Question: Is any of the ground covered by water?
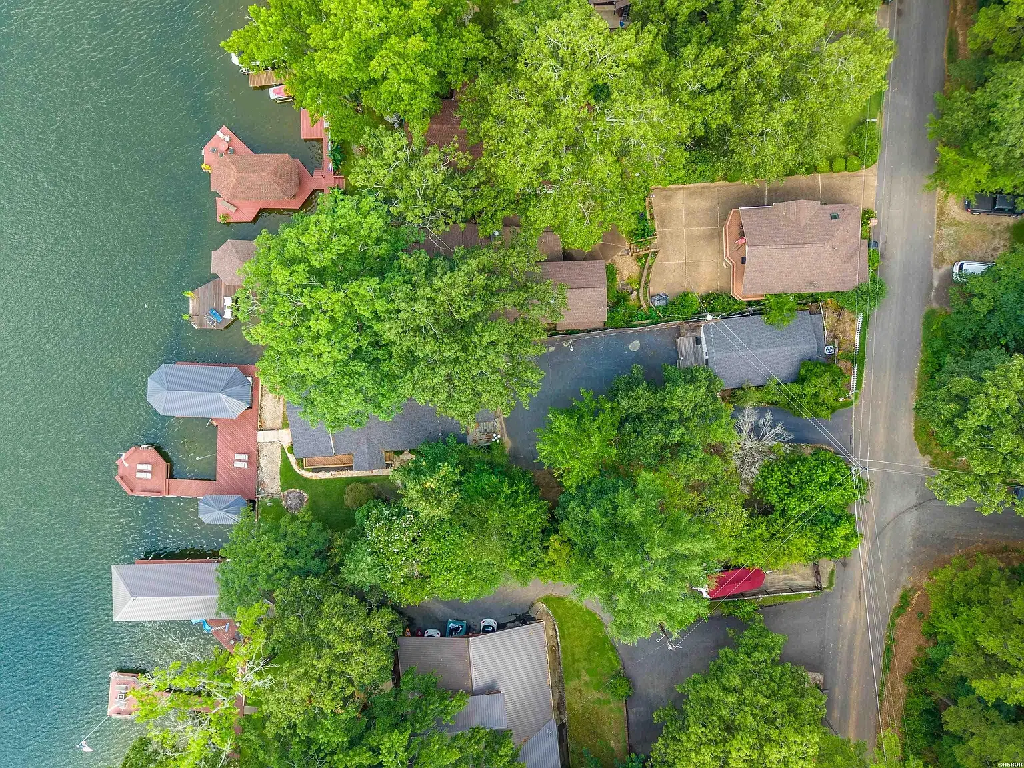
Yes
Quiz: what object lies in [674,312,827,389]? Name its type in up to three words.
house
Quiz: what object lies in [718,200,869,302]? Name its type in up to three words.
house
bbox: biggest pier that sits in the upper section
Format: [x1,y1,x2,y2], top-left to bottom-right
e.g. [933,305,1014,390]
[301,109,339,194]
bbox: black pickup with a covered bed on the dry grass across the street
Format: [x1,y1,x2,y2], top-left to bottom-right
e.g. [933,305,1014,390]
[968,188,1024,212]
